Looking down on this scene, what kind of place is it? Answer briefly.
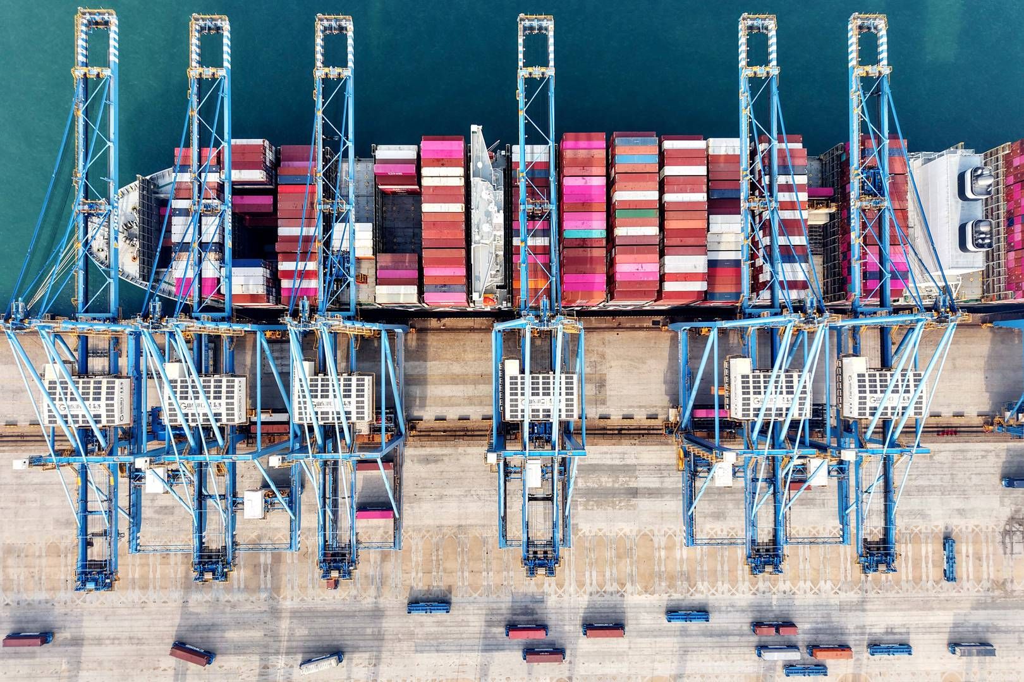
port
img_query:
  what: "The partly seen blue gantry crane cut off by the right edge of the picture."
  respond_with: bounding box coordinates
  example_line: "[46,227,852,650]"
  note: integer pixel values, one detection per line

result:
[990,323,1024,548]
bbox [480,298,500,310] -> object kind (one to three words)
boat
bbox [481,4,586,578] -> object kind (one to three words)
container crane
